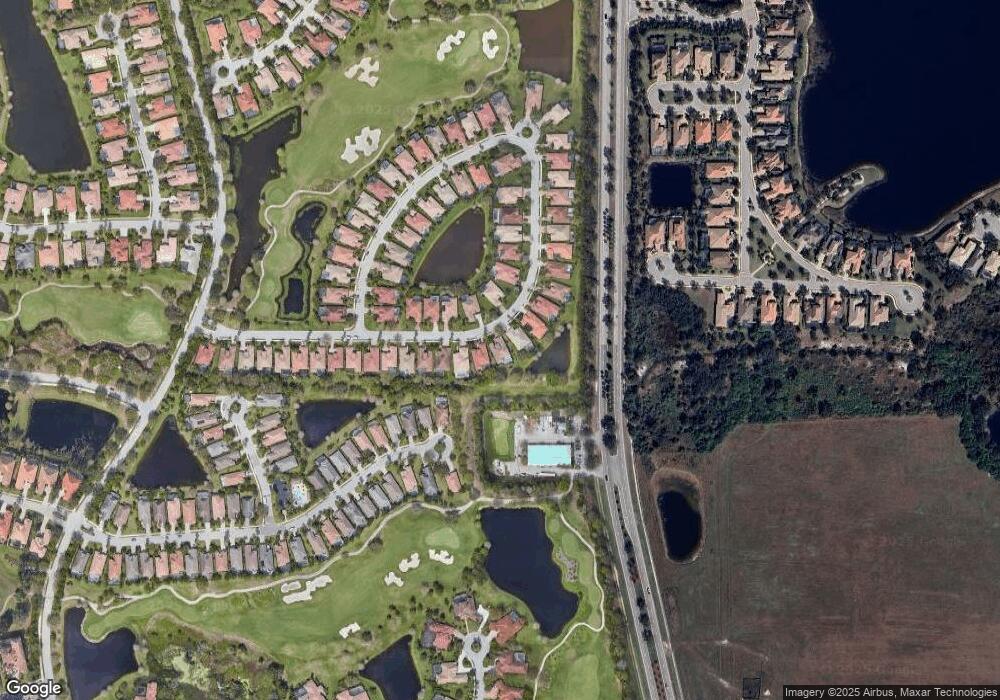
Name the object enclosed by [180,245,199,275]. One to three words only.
house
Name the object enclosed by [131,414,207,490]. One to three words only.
pond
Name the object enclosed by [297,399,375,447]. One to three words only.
pond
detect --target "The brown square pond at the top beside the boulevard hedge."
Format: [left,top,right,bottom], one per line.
[515,0,575,83]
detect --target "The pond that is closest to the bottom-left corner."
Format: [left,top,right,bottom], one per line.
[62,607,138,700]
